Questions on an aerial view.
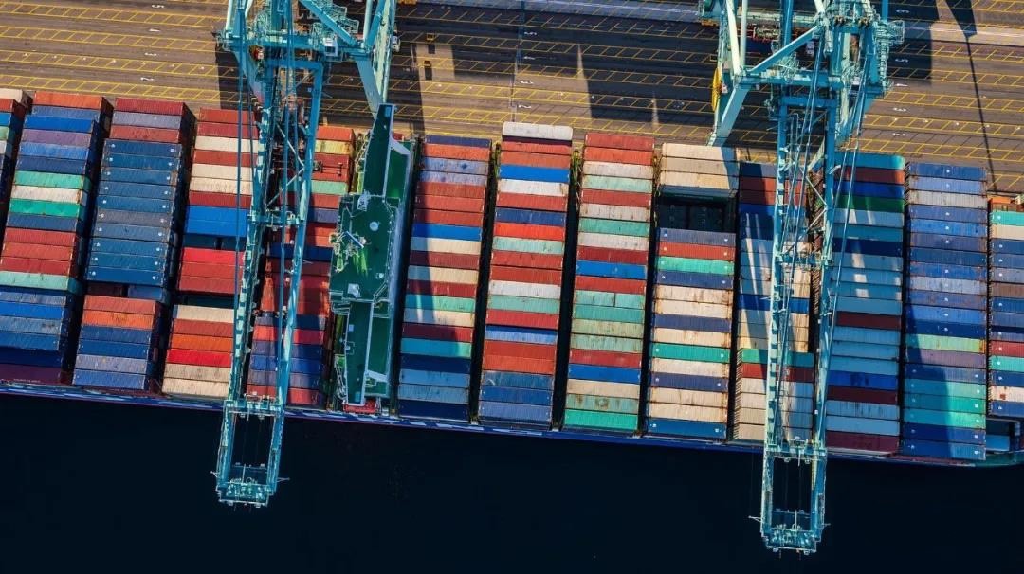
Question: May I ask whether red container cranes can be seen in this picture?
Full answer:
No, no red container crane is visible in the view.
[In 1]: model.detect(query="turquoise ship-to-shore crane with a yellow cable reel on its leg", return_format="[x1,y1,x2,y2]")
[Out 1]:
[694,0,898,557]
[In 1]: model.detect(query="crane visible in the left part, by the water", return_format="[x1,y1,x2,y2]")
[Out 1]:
[204,0,406,509]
